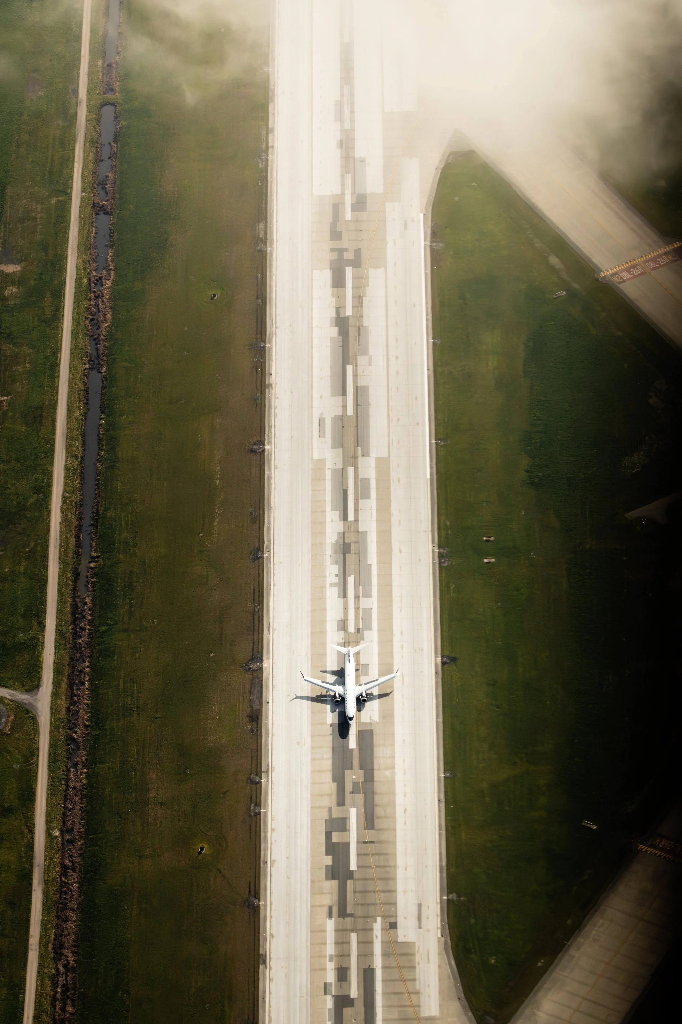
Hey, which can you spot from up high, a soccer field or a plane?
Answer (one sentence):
I can see a plane in this picture.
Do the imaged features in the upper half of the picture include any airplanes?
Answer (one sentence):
No, no airplane can be made out in the upper half of the picture.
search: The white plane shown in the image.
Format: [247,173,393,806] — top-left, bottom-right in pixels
[300,630,399,725]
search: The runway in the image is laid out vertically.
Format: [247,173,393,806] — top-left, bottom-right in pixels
[265,0,442,1024]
